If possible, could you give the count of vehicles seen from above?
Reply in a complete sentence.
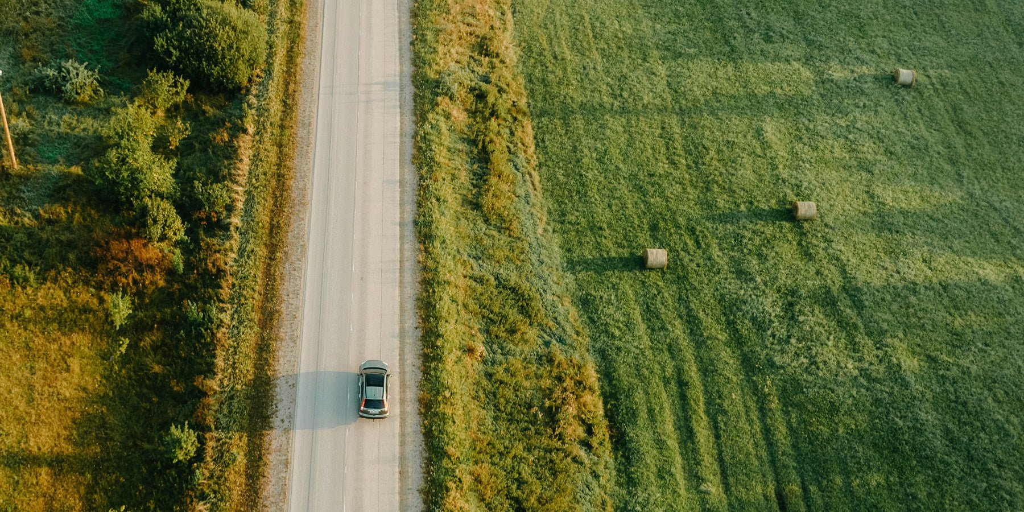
My tally gives 1 vehicle in this photo.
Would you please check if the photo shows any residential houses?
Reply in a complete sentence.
No, this view has no residential house in it.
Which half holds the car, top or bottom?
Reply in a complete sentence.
The car is in the bottom half of the image.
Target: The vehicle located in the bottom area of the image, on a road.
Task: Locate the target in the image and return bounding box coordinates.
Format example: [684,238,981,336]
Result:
[355,361,391,420]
